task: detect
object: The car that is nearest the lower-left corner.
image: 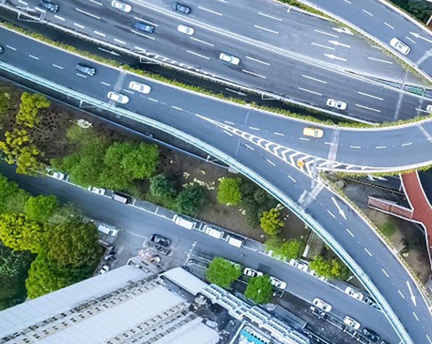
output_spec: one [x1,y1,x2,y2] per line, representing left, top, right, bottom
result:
[93,259,114,277]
